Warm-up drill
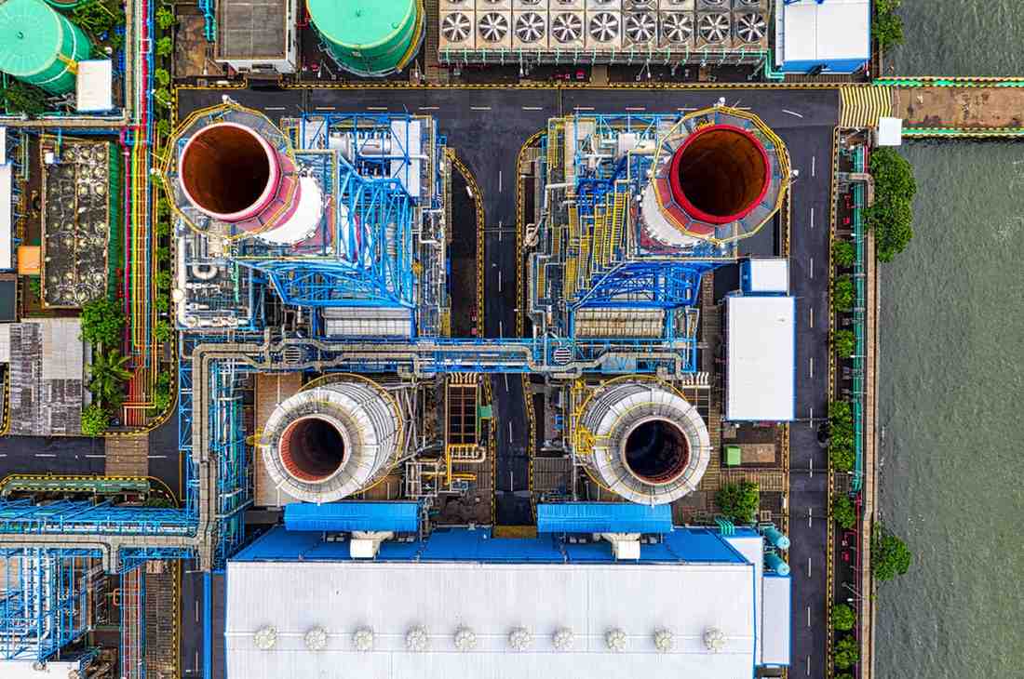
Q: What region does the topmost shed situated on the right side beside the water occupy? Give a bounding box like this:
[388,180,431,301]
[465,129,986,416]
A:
[766,0,869,83]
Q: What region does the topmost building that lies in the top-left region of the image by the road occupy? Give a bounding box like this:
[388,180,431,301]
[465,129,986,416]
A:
[214,0,297,77]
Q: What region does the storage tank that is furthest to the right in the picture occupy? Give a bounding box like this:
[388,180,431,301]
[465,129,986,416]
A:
[304,0,432,81]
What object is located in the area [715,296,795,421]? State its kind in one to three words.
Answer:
shed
